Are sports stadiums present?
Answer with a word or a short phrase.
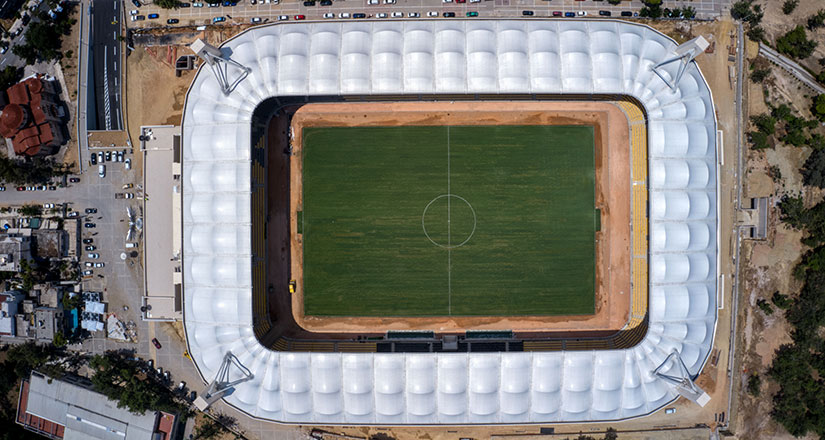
Yes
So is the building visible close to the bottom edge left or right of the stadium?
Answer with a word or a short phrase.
left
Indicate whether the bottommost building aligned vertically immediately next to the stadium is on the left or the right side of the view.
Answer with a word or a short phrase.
left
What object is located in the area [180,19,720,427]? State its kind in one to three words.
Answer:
stadium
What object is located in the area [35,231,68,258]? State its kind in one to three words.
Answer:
house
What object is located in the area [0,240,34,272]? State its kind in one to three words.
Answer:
house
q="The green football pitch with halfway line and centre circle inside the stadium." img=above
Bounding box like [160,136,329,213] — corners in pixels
[296,123,601,319]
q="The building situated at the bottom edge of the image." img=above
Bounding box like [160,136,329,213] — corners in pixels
[12,363,187,440]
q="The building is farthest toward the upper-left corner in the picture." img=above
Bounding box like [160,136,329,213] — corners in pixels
[0,67,70,159]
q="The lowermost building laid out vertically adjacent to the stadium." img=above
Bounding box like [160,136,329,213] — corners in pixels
[139,125,180,321]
